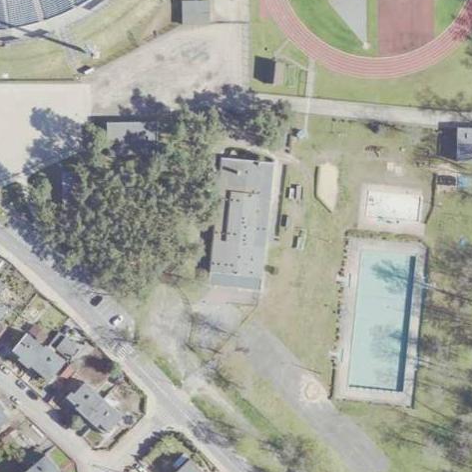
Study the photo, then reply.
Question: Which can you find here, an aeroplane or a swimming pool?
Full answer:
The one in the frame is a swimming pool.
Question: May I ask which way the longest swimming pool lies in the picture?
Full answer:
In this picture, the longest swimming pool is oriented up and down.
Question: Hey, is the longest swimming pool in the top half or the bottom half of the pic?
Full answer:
You can find the longest swimming pool in the bottom half.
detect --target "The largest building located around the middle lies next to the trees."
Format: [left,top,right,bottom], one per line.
[211,158,274,289]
